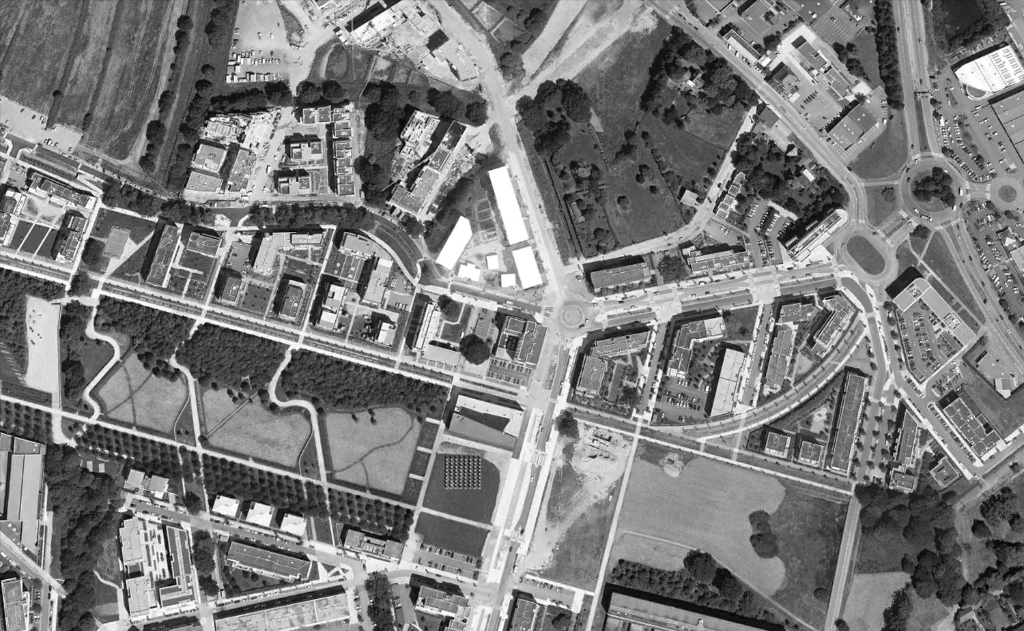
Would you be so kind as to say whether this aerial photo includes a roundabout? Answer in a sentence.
Yes, you can see a roundabout in this photo.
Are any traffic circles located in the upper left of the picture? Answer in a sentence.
No, there's no traffic circle to be seen in the upper left of the picture.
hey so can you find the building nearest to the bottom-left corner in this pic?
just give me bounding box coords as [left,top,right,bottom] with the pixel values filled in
[1,579,30,631]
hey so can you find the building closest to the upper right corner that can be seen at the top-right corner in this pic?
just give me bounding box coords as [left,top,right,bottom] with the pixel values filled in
[955,45,1024,93]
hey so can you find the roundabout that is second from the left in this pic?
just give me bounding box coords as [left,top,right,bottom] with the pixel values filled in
[836,224,896,286]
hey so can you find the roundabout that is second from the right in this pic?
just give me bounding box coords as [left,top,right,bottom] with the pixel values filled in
[896,153,970,226]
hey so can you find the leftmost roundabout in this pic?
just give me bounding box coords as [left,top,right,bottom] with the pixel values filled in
[551,295,594,337]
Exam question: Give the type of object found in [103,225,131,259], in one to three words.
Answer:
sports court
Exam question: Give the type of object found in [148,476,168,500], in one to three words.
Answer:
house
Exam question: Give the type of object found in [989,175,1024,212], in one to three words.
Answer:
roundabout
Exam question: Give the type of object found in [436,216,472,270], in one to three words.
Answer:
building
